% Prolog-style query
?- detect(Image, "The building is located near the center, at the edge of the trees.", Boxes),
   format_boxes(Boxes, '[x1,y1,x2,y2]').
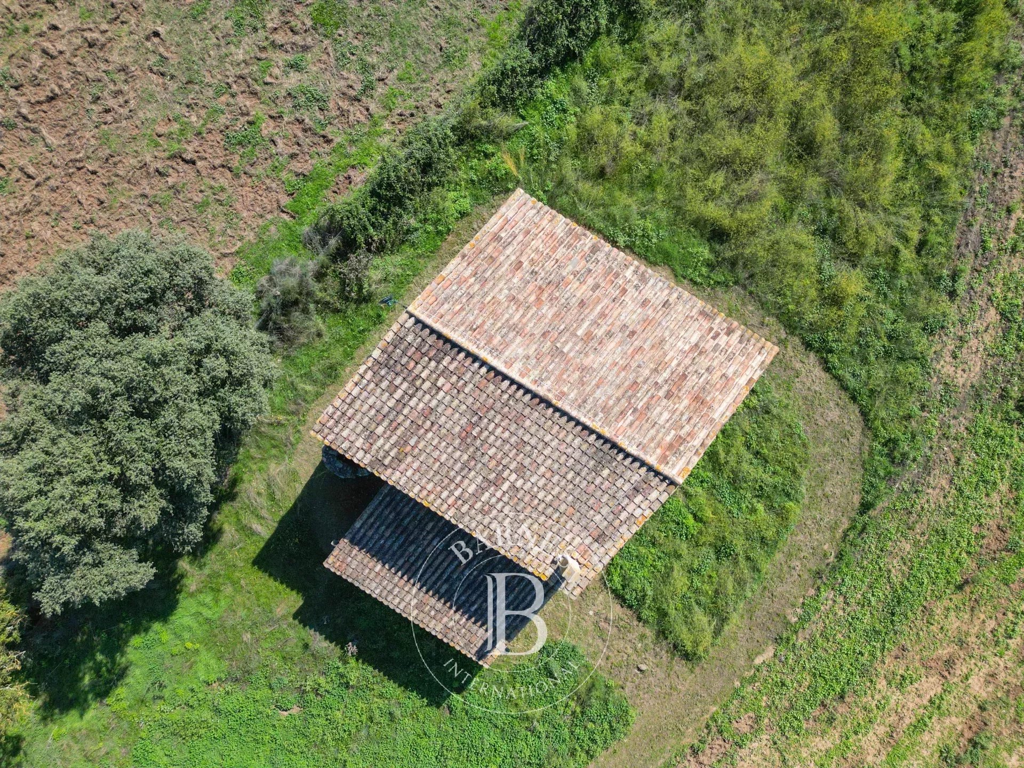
[312,187,778,668]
